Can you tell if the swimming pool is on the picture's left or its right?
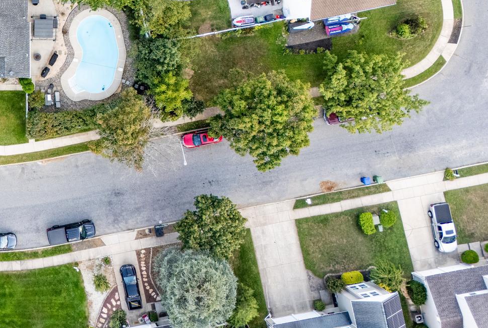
left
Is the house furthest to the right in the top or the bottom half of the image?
bottom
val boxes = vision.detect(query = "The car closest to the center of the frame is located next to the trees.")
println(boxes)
[180,129,223,149]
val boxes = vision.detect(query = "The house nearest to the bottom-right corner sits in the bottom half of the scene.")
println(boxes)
[413,257,488,328]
